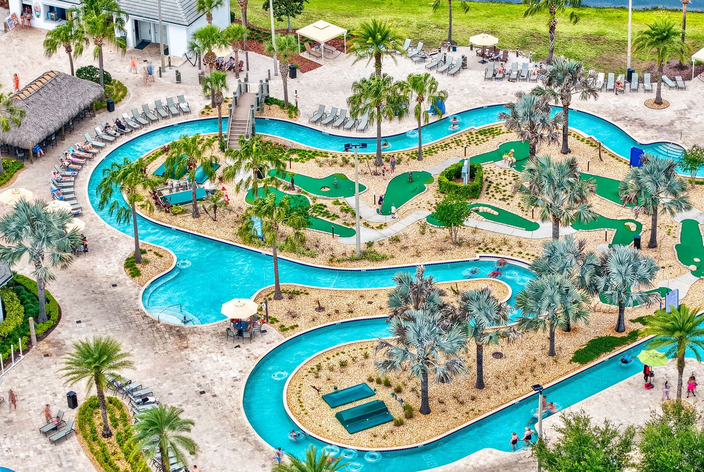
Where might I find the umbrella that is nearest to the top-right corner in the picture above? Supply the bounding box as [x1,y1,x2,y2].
[467,33,499,51]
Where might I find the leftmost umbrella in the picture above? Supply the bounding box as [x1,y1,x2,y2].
[0,186,34,216]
